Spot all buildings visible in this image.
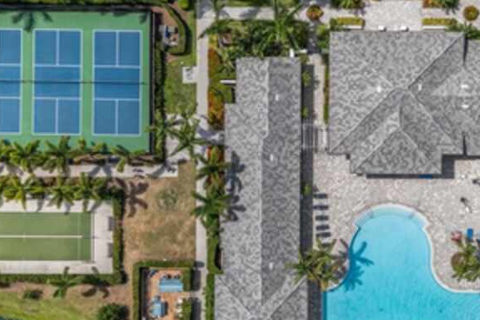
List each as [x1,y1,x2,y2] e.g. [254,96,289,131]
[215,54,308,320]
[330,21,480,175]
